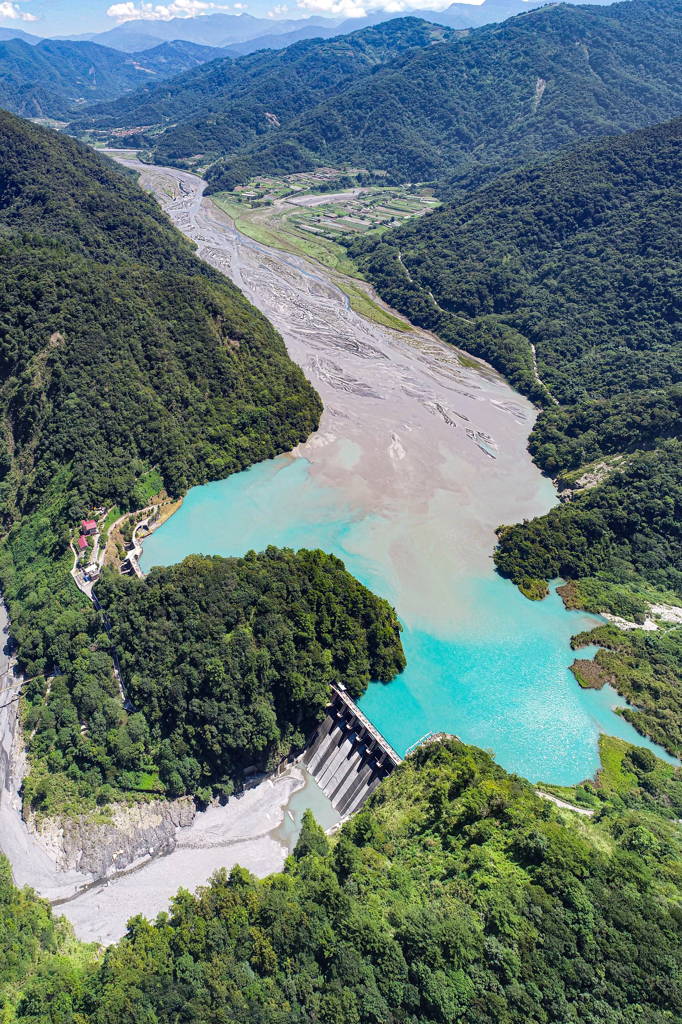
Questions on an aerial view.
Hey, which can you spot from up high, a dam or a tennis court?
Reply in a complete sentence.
It is a dam that can be seen here.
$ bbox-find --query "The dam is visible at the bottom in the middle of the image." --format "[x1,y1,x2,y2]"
[296,680,407,823]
